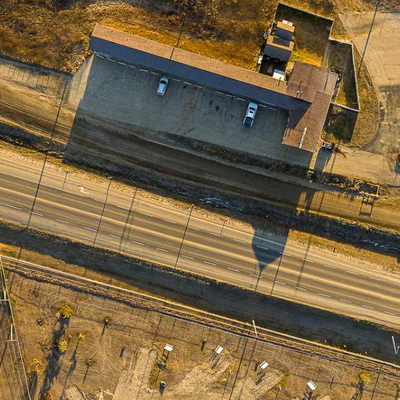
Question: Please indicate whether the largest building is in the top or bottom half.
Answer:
top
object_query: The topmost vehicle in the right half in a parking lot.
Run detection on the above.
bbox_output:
[244,103,257,127]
